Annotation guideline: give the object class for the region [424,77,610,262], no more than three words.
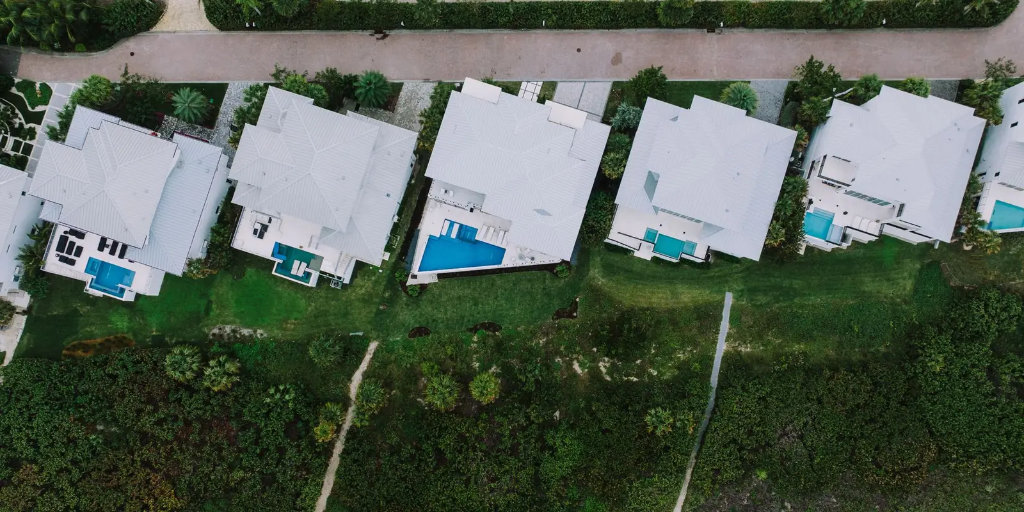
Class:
house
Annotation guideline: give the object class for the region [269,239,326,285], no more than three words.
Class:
swimming pool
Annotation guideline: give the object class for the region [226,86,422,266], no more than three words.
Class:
house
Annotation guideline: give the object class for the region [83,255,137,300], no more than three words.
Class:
swimming pool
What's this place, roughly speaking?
residential area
